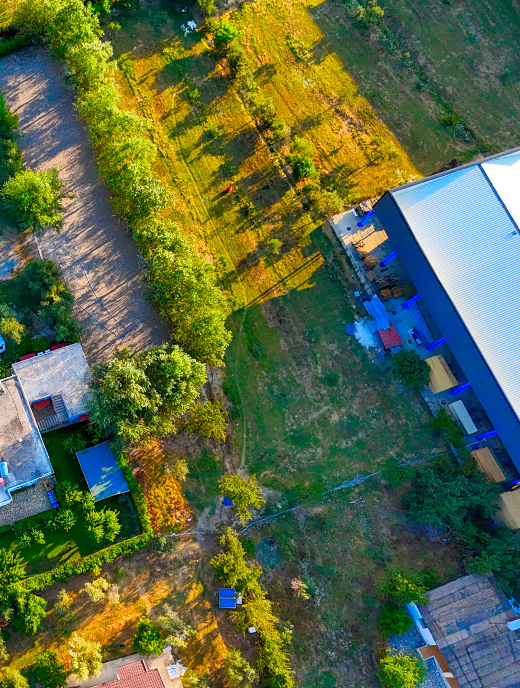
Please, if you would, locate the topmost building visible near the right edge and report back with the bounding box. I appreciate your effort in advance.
[353,145,520,486]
